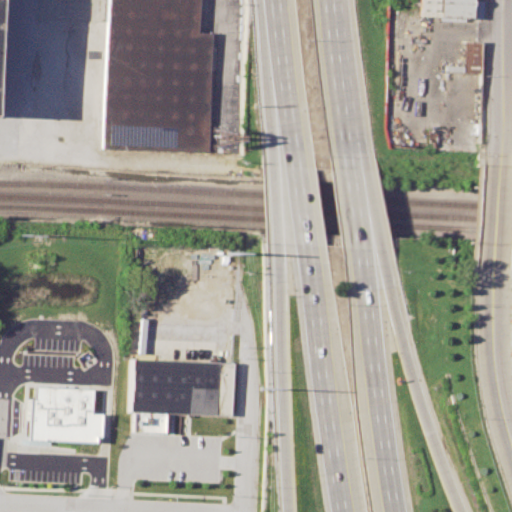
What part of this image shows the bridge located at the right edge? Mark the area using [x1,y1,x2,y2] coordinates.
[474,168,512,262]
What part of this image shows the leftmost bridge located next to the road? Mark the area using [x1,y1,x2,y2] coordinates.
[256,162,328,250]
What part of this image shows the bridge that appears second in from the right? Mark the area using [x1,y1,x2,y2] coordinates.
[332,165,394,250]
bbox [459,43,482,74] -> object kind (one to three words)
shed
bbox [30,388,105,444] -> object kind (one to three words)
building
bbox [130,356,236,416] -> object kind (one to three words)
building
